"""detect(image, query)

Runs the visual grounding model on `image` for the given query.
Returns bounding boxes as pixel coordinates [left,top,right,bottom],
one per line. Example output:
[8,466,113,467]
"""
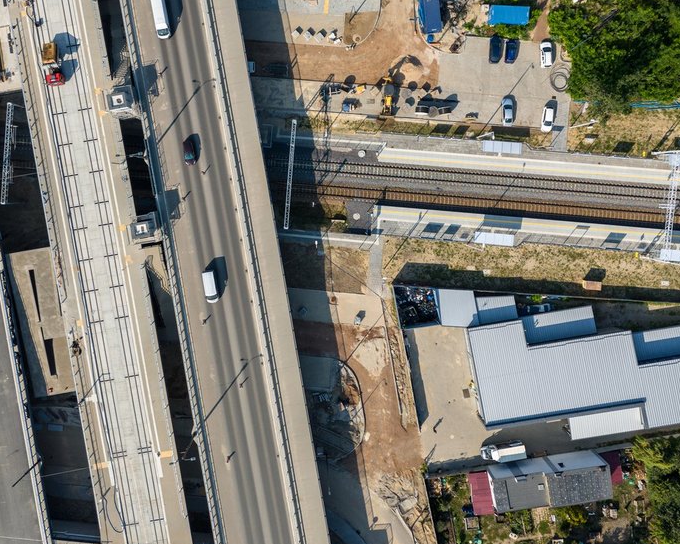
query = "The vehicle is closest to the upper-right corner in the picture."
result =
[537,43,552,69]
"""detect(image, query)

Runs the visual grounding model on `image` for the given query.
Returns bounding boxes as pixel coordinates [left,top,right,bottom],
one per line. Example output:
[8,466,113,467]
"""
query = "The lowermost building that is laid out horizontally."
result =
[487,450,612,514]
